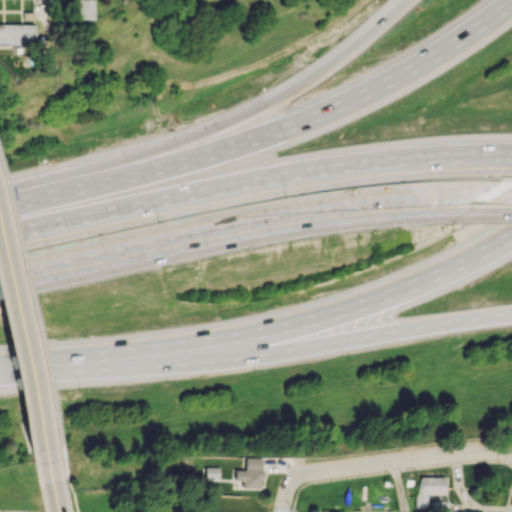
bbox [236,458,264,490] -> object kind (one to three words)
house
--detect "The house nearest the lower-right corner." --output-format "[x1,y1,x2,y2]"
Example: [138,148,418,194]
[418,478,450,512]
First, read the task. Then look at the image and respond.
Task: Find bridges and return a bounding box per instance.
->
[0,138,66,450]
